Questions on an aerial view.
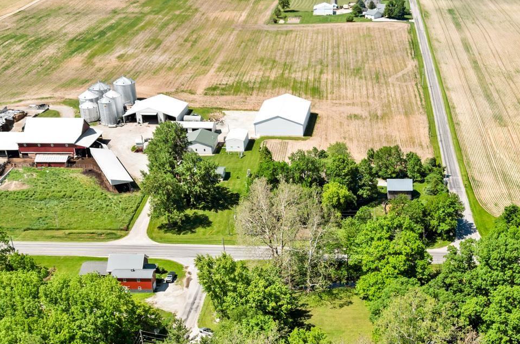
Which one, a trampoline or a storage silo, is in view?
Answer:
storage silo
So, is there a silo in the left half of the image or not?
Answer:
Yes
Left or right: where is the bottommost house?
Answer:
left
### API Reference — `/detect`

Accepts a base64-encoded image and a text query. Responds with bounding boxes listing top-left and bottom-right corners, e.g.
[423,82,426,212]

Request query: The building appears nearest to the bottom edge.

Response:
[110,268,160,292]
